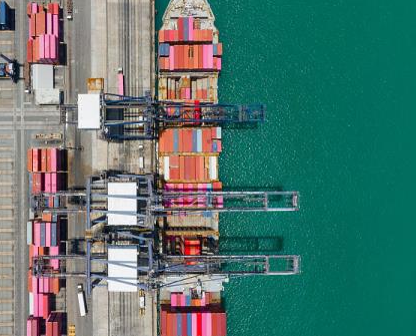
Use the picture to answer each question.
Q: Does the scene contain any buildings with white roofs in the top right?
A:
No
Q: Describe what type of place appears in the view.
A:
port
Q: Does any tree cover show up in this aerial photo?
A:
No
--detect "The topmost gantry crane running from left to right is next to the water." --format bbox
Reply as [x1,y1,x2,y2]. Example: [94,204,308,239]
[59,91,265,147]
